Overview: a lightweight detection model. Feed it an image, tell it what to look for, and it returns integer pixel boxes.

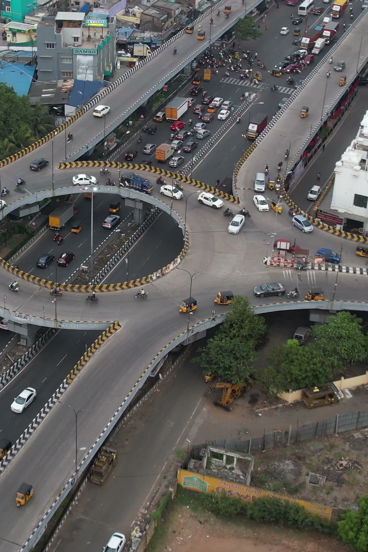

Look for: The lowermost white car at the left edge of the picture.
[10,389,38,415]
